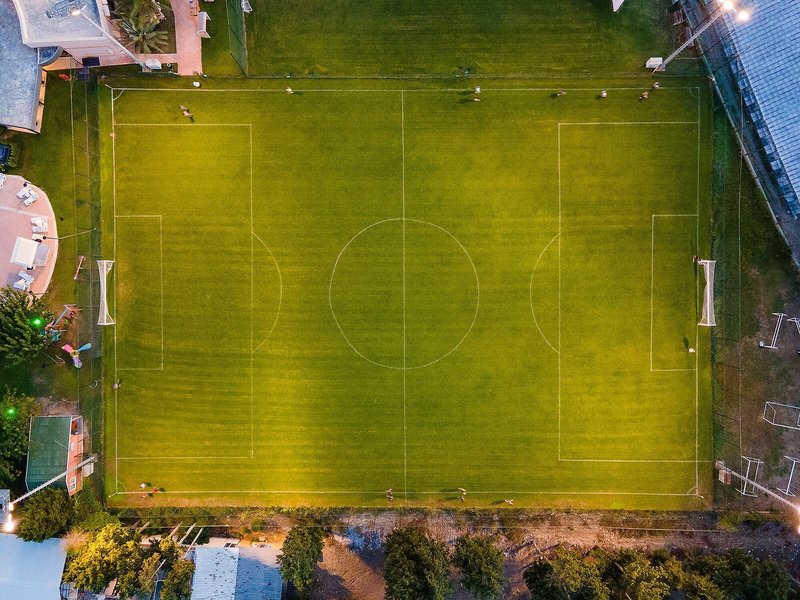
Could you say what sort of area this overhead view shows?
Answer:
sports ground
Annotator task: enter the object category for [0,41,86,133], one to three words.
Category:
house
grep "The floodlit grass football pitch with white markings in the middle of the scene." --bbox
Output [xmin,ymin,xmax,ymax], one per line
[98,78,713,510]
